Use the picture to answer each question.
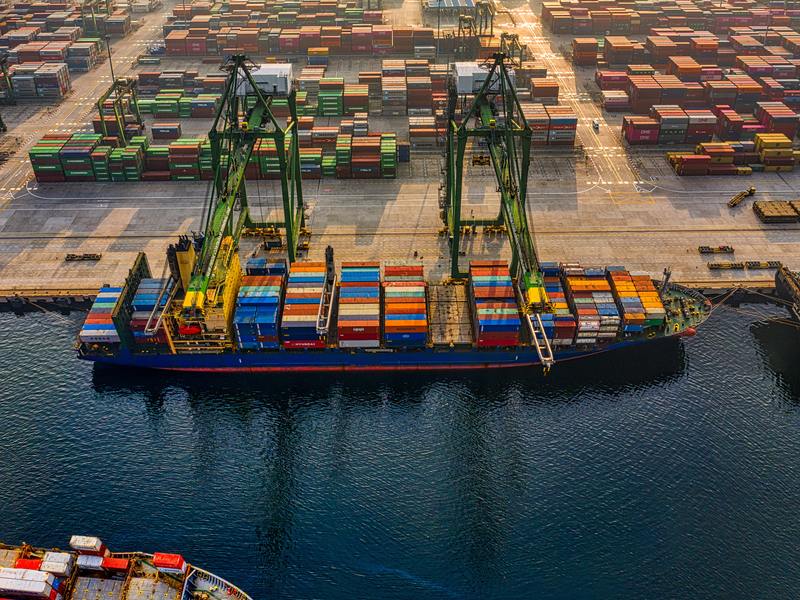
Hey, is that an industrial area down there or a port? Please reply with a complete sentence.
The picture captures a port.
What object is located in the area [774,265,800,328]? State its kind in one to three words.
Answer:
ship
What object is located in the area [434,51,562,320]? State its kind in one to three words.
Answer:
container crane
